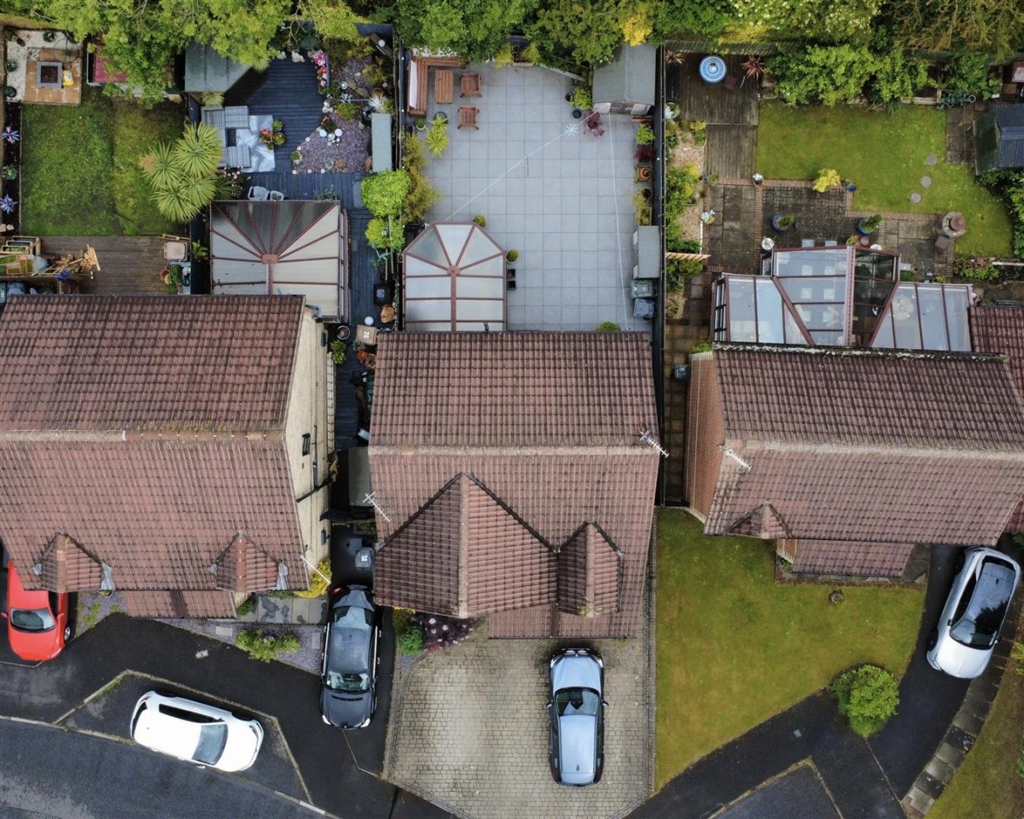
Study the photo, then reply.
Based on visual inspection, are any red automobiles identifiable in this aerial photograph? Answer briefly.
Yes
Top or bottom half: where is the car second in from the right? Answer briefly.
bottom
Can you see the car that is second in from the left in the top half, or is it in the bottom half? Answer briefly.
bottom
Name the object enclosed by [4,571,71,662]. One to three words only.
car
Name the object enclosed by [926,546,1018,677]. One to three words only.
car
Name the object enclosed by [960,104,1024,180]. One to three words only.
shed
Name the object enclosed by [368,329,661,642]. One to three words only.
house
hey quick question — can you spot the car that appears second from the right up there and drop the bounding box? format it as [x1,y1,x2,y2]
[544,648,610,787]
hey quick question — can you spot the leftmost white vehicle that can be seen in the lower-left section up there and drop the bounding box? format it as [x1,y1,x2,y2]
[132,690,264,773]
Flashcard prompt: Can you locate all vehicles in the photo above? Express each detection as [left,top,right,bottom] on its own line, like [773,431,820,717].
[4,571,71,662]
[315,585,382,727]
[544,648,610,787]
[926,546,1018,677]
[132,690,264,773]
